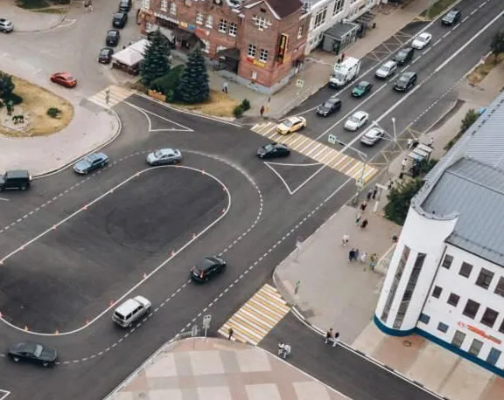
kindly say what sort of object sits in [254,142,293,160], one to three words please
car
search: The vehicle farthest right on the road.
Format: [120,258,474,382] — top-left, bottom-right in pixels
[440,7,461,25]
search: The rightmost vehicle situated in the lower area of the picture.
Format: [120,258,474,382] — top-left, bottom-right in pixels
[187,256,227,285]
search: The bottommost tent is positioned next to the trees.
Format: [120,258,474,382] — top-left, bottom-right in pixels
[105,50,145,82]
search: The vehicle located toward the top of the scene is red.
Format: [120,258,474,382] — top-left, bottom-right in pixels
[48,74,80,88]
